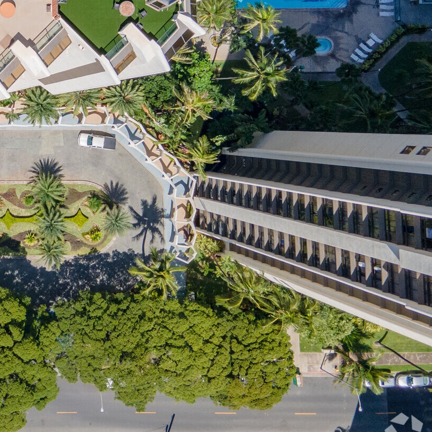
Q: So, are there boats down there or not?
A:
No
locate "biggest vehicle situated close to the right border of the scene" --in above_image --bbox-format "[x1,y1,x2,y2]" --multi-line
[396,374,430,390]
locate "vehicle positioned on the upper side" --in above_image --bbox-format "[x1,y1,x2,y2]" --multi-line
[77,133,117,150]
